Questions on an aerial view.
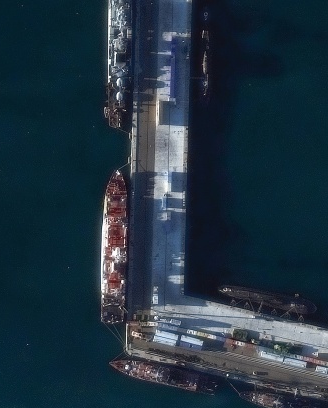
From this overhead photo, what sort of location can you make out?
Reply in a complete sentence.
What you see here is a port.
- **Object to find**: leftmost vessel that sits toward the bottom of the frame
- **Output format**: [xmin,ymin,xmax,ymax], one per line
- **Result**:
[102,169,127,323]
